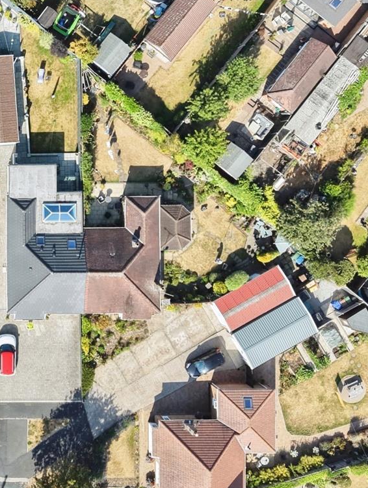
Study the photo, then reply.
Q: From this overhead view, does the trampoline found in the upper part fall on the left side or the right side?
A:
left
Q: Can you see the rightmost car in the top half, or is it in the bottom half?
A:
bottom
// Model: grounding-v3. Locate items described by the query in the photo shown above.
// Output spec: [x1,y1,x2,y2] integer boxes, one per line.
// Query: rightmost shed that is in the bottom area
[338,307,368,334]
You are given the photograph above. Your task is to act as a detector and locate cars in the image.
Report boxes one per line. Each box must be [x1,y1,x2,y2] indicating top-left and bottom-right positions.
[0,336,19,377]
[187,349,229,380]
